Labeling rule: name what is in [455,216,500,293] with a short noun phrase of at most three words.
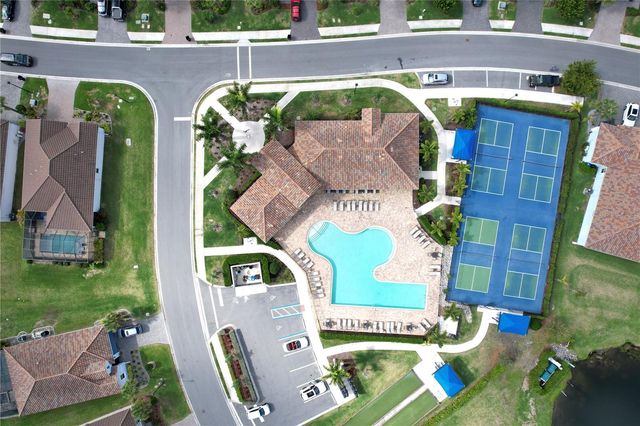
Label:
sports court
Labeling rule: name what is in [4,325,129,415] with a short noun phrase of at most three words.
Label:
house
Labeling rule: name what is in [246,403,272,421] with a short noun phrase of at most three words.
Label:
vehicle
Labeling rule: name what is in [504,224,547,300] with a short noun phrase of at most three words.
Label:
sports court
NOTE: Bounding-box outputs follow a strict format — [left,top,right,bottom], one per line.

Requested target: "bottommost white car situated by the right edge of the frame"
[621,101,638,127]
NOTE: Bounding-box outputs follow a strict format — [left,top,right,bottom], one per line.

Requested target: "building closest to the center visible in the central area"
[229,107,419,242]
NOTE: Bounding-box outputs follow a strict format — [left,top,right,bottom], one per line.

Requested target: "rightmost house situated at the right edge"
[572,122,640,262]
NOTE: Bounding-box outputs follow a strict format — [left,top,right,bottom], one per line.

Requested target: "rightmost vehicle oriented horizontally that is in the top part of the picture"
[528,74,560,88]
